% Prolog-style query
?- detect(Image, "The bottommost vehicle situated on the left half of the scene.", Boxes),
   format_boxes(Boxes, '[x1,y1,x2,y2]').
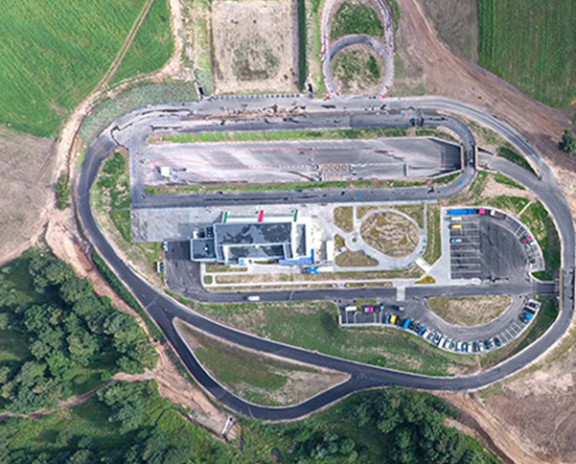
[220,419,232,435]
